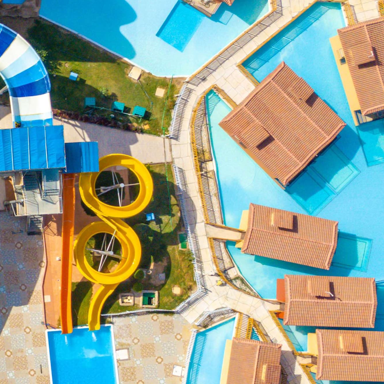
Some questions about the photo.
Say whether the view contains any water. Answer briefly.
Yes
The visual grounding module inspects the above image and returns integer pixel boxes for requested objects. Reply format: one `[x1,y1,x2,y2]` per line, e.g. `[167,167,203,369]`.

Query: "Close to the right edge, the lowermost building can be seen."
[305,329,384,382]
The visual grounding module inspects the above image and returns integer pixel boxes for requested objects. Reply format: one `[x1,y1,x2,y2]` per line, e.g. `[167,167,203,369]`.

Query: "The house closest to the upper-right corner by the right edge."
[330,14,384,128]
